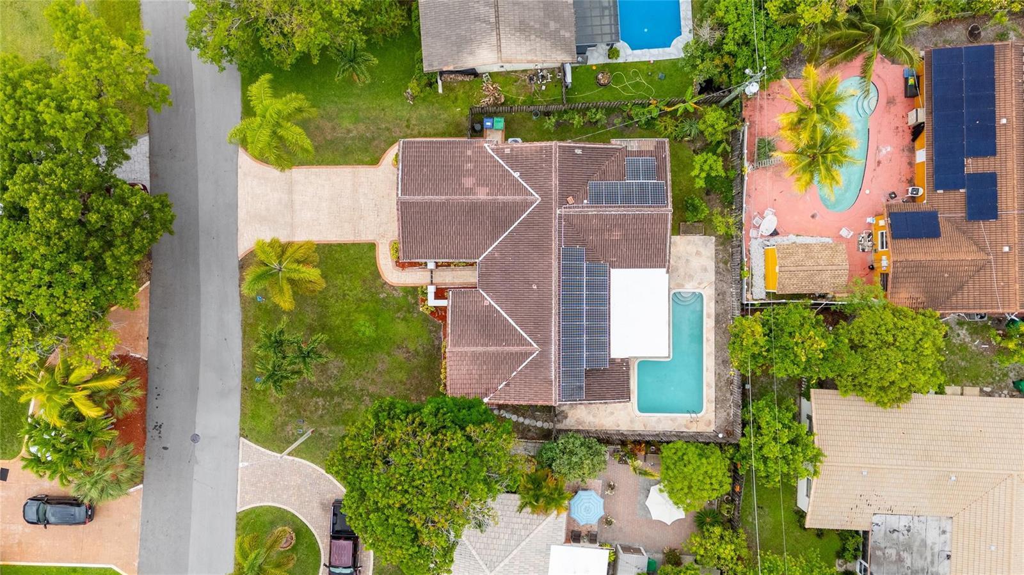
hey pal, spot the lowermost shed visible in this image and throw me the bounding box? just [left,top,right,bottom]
[618,546,650,575]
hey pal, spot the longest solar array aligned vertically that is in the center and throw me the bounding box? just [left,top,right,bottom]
[561,247,609,402]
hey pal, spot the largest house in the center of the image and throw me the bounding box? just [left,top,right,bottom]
[395,138,674,407]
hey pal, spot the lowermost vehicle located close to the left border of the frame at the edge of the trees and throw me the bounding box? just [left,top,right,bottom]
[25,493,97,530]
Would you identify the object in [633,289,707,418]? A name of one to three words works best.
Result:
swimming pool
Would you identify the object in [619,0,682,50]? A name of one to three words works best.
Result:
swimming pool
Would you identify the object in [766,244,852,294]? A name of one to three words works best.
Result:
shed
